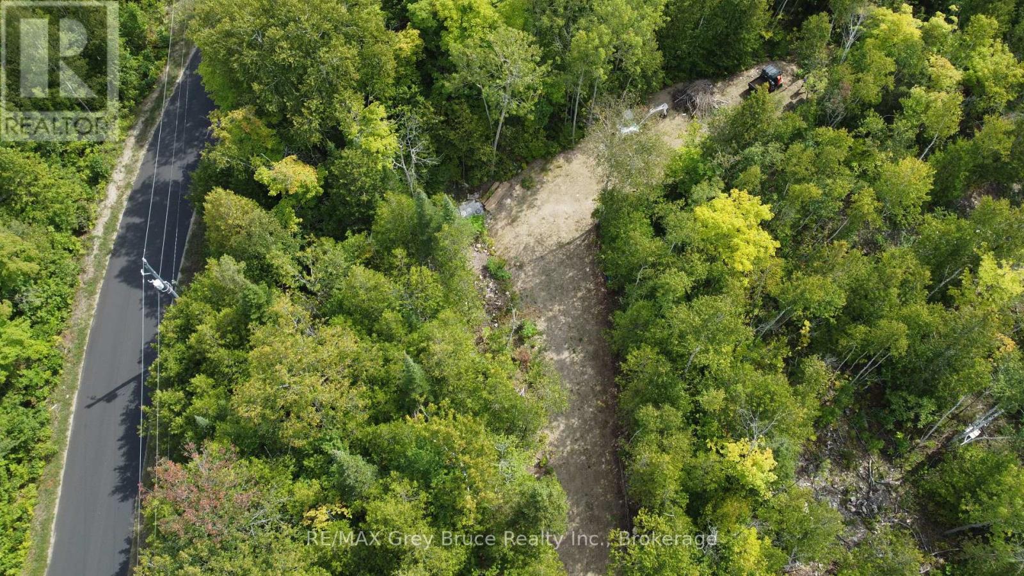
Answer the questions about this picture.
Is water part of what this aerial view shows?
No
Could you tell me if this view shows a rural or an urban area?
rural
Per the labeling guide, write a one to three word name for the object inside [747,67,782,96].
vehicle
